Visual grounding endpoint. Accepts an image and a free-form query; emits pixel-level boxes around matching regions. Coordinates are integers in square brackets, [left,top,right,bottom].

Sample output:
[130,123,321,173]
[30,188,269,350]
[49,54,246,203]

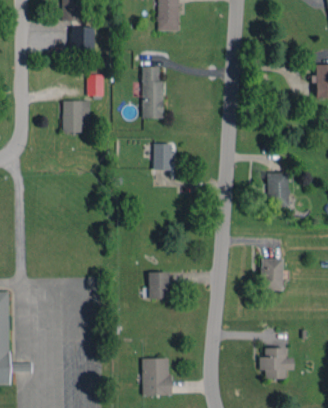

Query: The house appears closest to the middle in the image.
[154,143,176,170]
